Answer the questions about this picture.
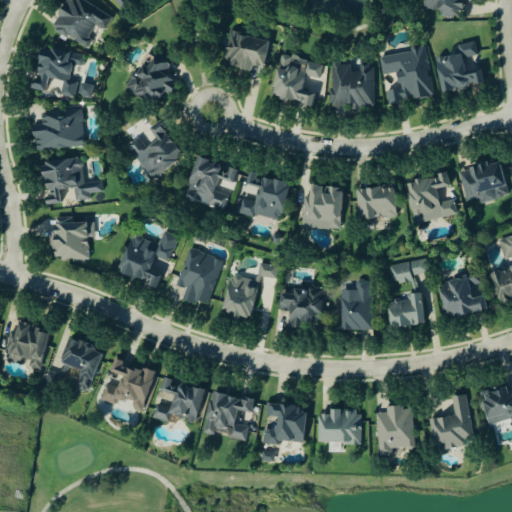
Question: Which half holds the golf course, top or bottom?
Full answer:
It is in the bottom half that the golf course appears.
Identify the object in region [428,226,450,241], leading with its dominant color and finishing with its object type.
blue swimming pool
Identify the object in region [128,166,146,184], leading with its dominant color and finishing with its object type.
blue swimming pool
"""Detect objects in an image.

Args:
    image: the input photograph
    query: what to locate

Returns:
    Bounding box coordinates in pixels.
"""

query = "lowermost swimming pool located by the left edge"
[4,364,28,378]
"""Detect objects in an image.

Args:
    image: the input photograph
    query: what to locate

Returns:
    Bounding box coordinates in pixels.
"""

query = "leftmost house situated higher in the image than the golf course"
[2,320,49,370]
